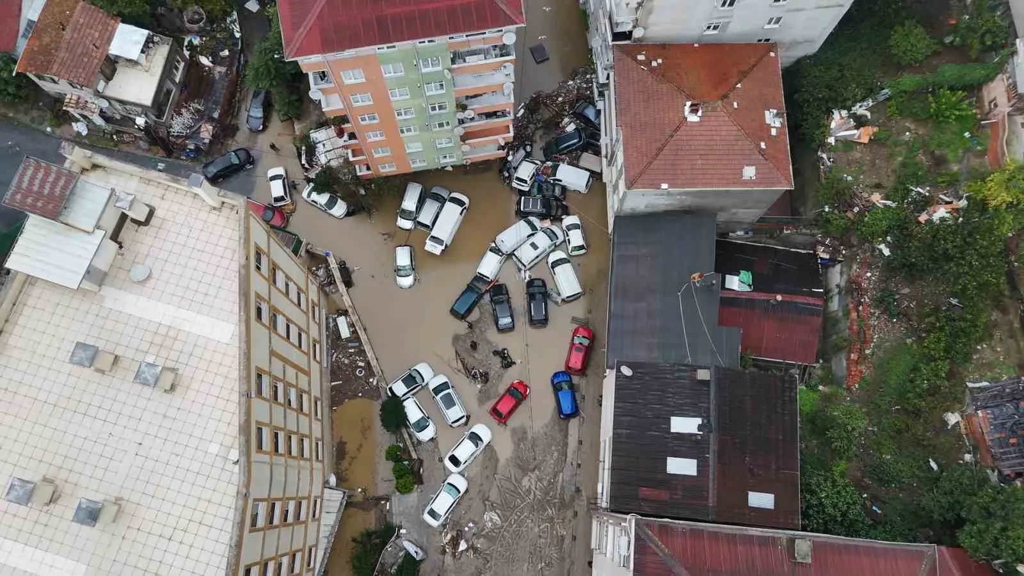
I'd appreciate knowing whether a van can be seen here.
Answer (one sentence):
Yes, there's a van here.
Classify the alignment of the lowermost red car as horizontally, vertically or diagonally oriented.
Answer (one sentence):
The lowermost red car has been laid out diagonally relative to the frame.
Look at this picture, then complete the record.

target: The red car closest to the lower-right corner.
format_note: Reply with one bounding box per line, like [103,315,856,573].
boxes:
[565,327,594,378]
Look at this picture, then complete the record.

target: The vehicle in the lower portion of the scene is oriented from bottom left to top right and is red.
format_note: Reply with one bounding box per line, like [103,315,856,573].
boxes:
[486,379,532,429]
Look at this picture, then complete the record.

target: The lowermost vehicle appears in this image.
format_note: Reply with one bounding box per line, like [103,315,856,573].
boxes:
[419,472,472,532]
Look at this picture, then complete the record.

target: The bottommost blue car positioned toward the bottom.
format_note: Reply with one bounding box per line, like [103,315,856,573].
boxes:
[550,372,579,421]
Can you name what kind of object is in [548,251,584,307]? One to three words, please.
van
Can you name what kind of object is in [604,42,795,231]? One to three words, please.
house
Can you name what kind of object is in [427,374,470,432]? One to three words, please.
car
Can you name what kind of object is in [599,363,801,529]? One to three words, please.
building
